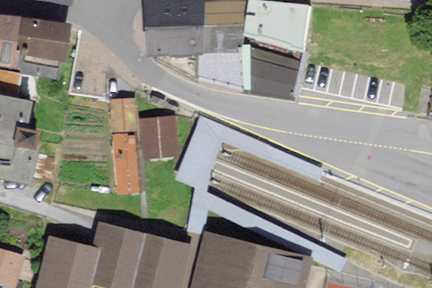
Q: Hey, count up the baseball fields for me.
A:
0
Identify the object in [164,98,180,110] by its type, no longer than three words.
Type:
vehicle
